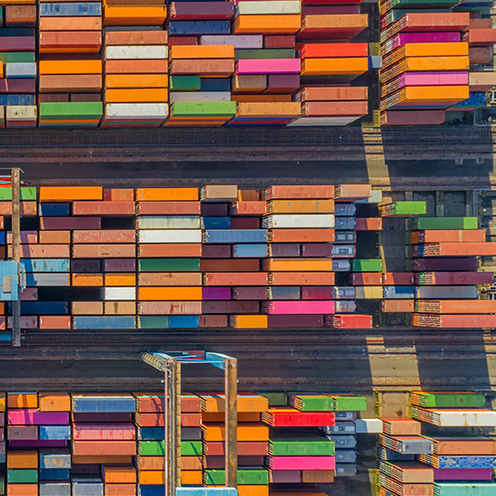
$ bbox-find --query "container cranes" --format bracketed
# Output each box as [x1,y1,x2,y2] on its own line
[0,166,27,342]
[137,349,243,496]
